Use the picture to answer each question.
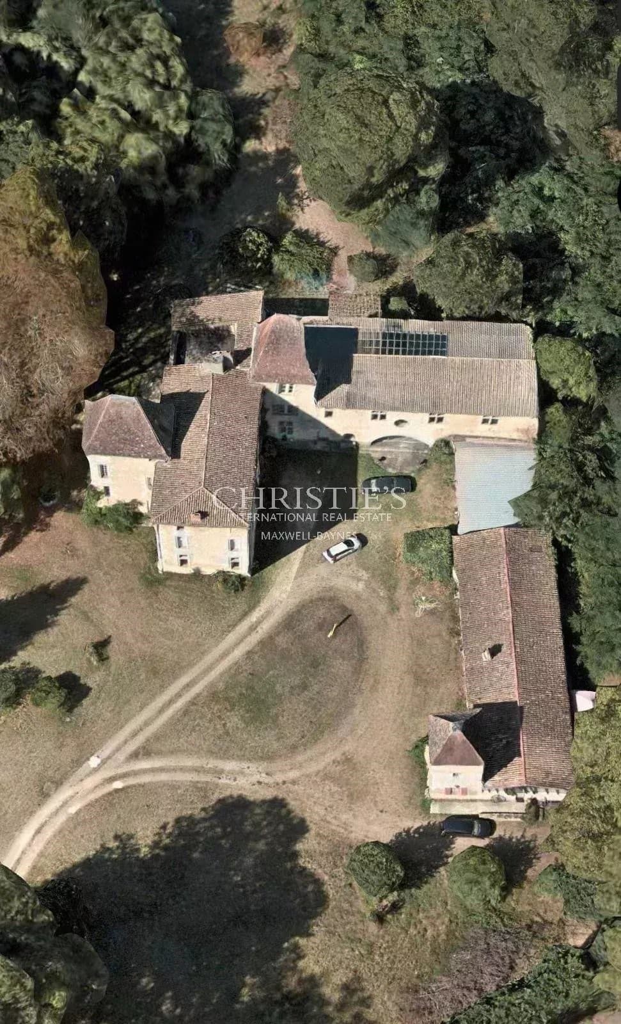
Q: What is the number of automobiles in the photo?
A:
3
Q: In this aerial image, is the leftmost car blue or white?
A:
white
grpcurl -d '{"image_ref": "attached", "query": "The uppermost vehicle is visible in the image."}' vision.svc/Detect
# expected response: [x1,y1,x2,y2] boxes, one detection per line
[361,472,412,497]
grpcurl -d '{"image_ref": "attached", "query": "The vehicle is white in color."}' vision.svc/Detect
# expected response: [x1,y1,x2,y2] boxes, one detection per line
[319,533,366,567]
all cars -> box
[439,813,496,842]
[361,472,412,497]
[319,533,366,567]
